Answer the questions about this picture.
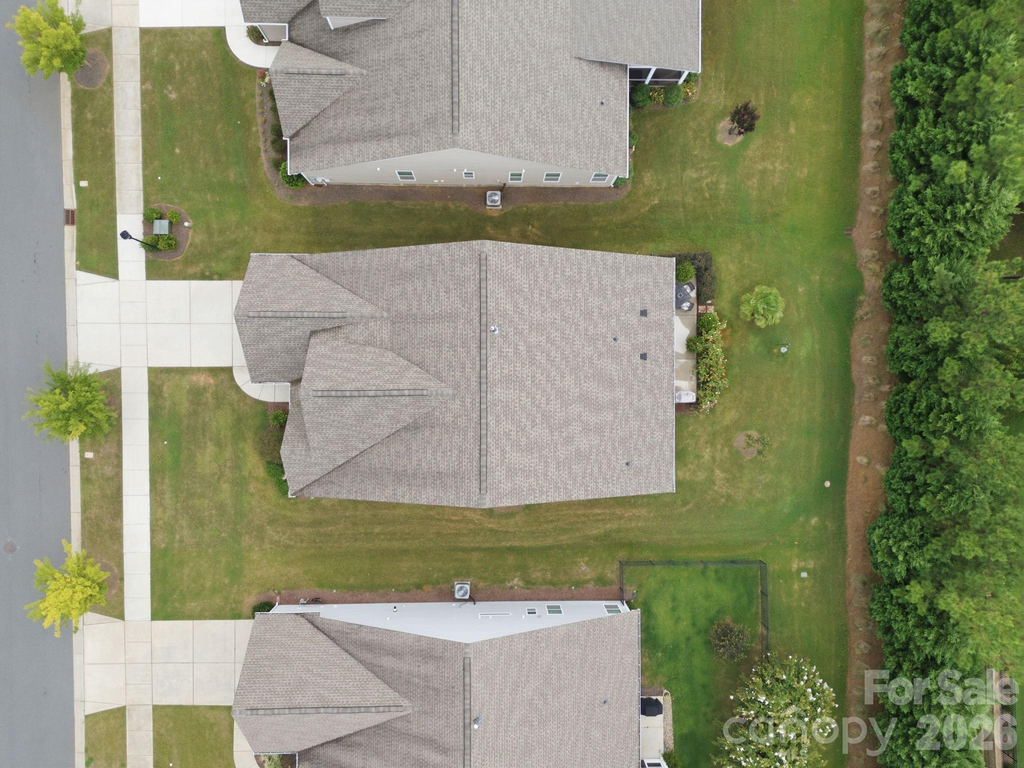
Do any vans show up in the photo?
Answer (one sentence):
No, I can't see a single van in this photo.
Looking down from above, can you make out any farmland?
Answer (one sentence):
No, farmland can't be seen anywhere here.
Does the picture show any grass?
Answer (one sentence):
Yes, there is grass in the image.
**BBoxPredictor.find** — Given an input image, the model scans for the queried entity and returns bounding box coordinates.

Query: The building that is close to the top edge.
[240,0,703,190]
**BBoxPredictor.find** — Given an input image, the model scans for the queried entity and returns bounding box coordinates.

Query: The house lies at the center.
[234,241,678,507]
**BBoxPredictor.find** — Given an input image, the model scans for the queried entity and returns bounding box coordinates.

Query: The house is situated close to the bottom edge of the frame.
[231,592,665,768]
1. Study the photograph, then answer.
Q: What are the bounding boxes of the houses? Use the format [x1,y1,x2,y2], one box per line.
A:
[240,0,703,190]
[231,592,665,768]
[234,241,678,507]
